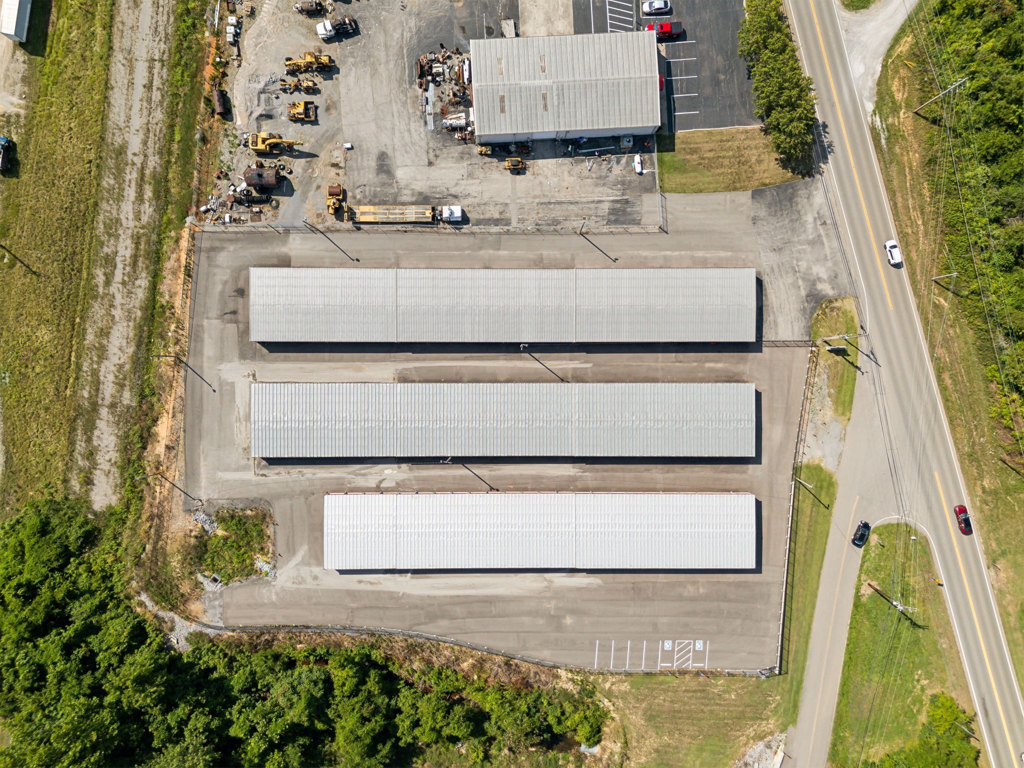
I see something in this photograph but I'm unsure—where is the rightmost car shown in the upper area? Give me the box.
[883,239,903,268]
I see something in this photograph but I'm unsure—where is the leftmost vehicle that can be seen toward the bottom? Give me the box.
[851,519,869,548]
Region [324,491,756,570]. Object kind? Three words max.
building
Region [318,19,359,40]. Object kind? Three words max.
truck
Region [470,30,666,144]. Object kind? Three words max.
building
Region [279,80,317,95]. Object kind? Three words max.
work vehicle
